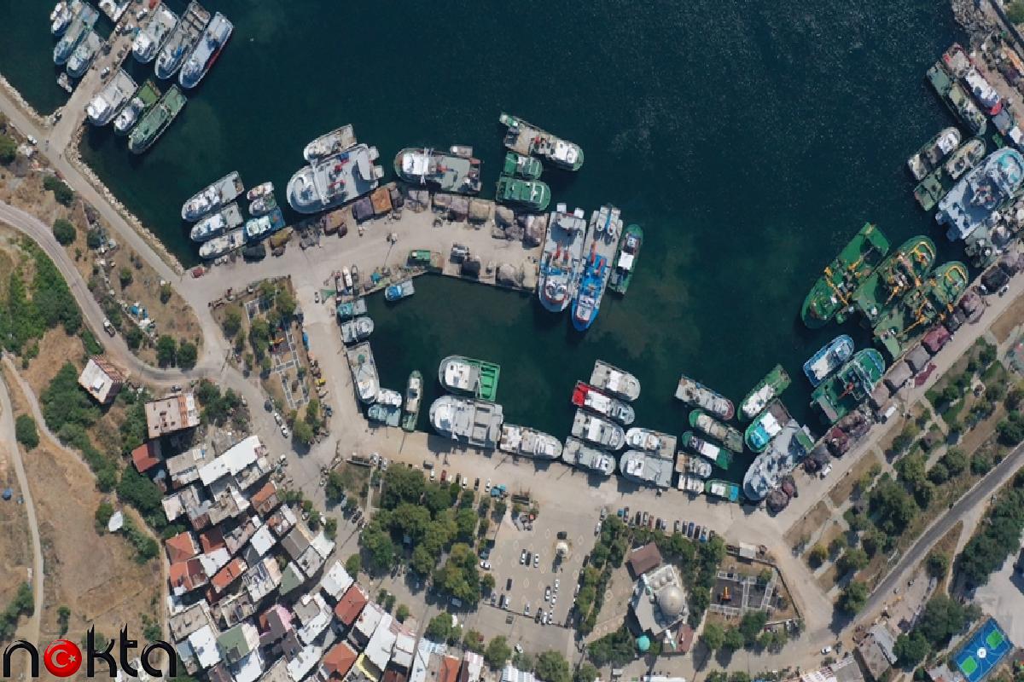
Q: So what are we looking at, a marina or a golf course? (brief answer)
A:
marina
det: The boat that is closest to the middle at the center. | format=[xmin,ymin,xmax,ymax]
[438,356,502,402]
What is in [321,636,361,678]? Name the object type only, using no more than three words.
house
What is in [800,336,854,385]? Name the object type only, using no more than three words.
boat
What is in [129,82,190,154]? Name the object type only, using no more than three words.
boat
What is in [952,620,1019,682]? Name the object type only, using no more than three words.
sports court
